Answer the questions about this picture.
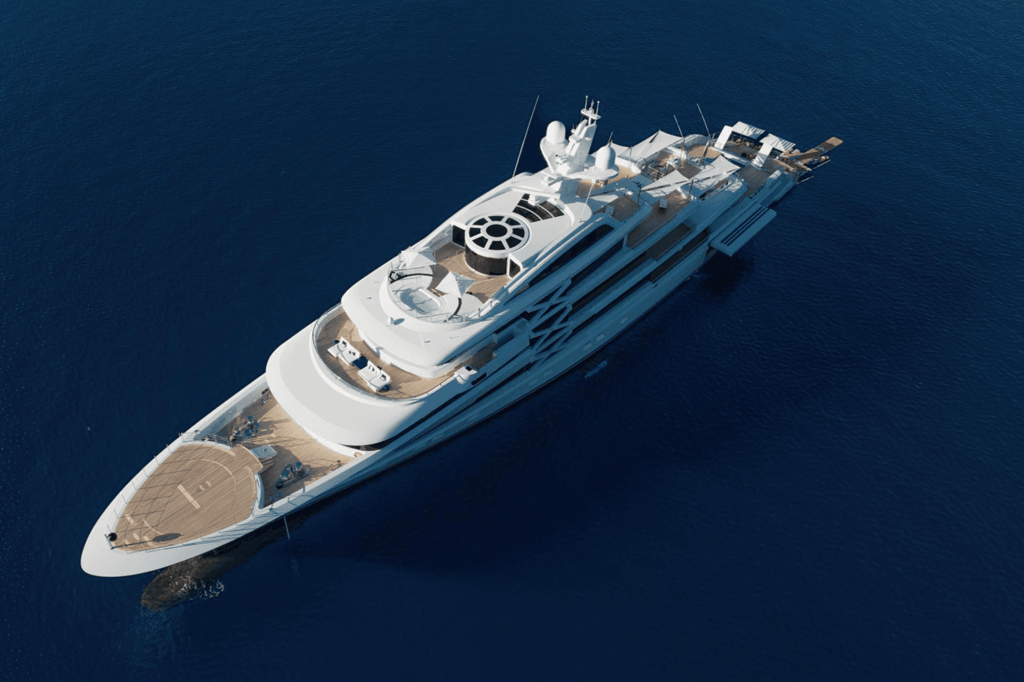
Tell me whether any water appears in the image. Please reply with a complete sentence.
Yes, there is water in the image.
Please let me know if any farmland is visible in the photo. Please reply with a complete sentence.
No, farmland can't be seen anywhere here.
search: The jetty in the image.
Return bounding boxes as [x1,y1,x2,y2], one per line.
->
[792,138,843,166]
